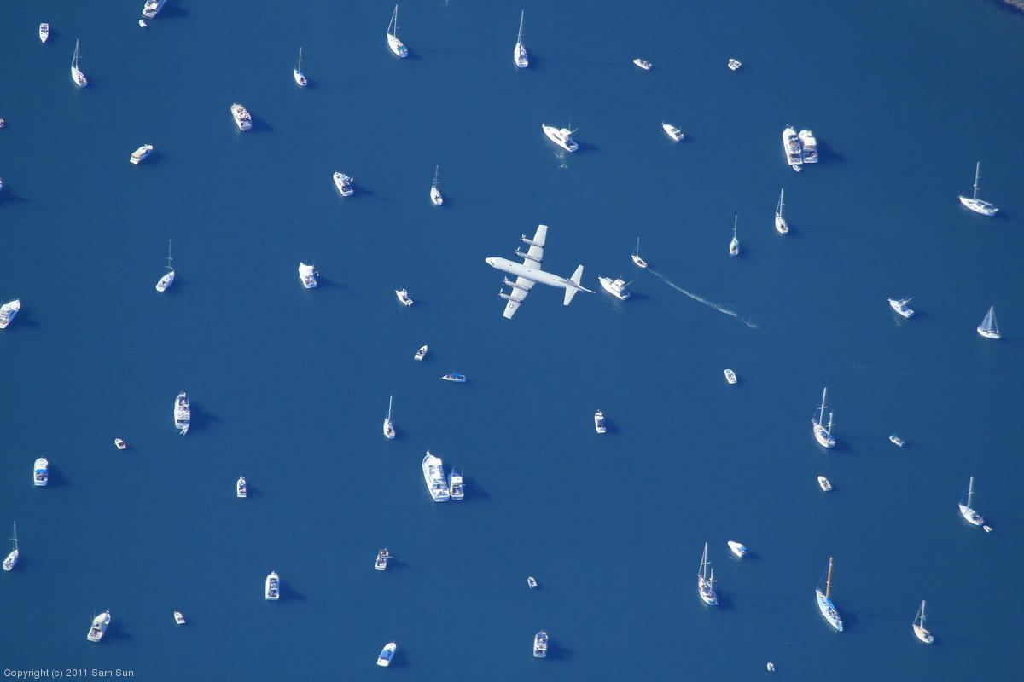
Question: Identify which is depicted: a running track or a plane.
plane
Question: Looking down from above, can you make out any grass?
No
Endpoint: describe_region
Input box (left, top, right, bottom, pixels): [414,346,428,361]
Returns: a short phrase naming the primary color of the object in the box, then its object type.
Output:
white boat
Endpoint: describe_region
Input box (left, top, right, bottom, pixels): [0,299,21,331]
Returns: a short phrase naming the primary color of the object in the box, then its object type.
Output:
white boat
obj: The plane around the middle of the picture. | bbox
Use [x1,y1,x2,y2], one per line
[486,224,596,318]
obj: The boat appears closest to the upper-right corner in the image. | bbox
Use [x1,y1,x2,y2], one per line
[960,162,997,214]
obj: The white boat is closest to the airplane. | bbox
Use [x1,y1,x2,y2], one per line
[598,275,631,301]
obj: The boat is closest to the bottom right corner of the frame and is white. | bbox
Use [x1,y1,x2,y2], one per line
[913,600,934,642]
